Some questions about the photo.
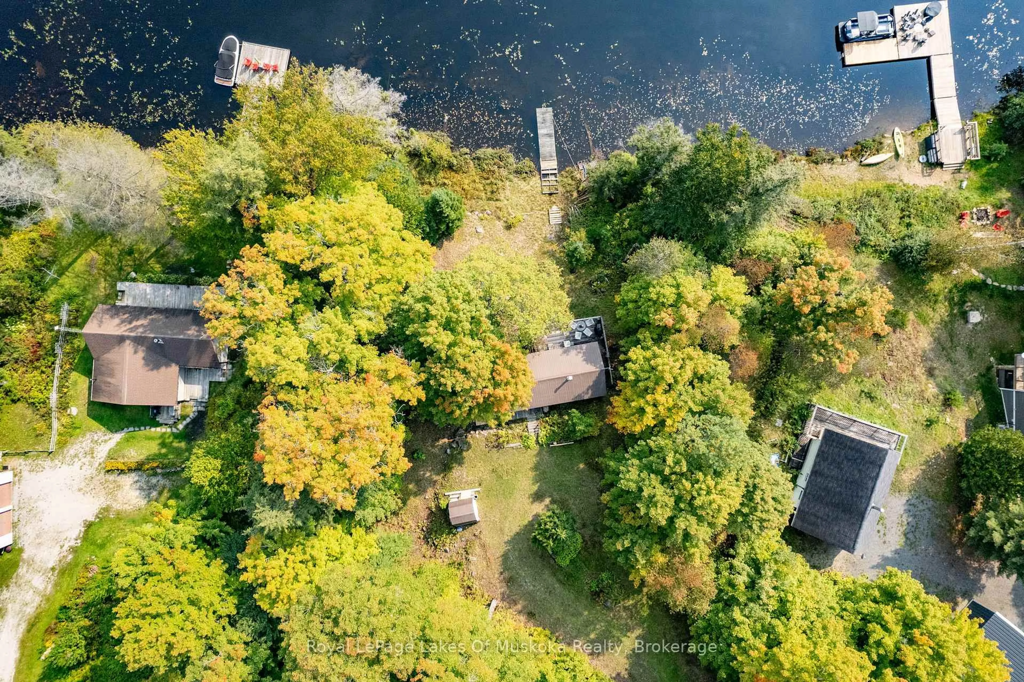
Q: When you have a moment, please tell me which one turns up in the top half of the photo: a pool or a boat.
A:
boat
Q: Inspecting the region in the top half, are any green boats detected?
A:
No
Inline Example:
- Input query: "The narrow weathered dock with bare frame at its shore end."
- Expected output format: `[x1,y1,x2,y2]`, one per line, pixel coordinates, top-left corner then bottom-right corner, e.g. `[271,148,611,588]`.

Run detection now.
[536,107,558,186]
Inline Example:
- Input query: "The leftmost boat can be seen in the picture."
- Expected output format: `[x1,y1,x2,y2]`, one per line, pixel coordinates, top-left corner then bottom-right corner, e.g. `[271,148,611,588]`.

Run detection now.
[213,34,238,87]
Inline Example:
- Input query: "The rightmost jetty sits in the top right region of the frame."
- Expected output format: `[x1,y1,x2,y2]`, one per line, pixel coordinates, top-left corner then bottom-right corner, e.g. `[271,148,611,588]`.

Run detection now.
[840,0,962,127]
